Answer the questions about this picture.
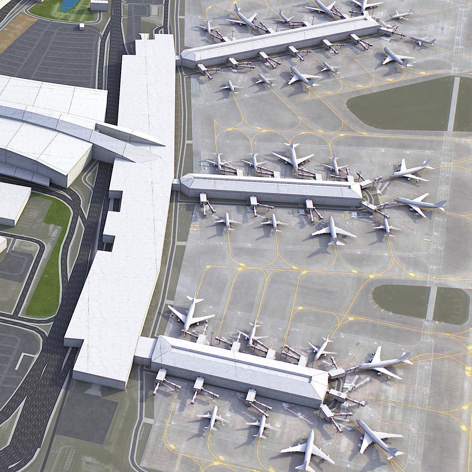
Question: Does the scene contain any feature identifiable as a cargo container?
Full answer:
No, no cargo container is visible in the scene.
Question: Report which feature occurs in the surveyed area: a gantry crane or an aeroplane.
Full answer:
Looking from above, you can make out an aeroplane.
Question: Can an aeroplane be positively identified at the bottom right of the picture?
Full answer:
Yes, looking at the bottom right of the picture, one can make out an aeroplane.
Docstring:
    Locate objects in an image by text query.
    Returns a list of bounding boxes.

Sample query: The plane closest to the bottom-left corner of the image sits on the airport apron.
[196,407,228,429]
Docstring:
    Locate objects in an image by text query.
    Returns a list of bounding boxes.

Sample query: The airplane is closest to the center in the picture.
[215,213,241,230]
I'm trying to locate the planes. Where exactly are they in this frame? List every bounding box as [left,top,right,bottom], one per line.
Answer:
[357,419,404,457]
[375,219,401,235]
[215,213,241,230]
[357,348,412,379]
[222,81,244,93]
[197,21,219,34]
[196,407,228,429]
[324,63,341,74]
[322,154,348,174]
[206,153,232,170]
[281,430,335,470]
[390,160,431,182]
[257,74,279,86]
[392,9,414,20]
[245,415,277,438]
[394,194,444,217]
[273,144,314,173]
[384,49,417,67]
[353,0,384,10]
[226,5,256,29]
[304,0,335,17]
[289,67,322,87]
[274,12,292,26]
[411,37,436,46]
[241,151,267,170]
[312,217,356,244]
[239,320,269,346]
[168,296,215,331]
[310,335,339,358]
[261,215,289,231]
